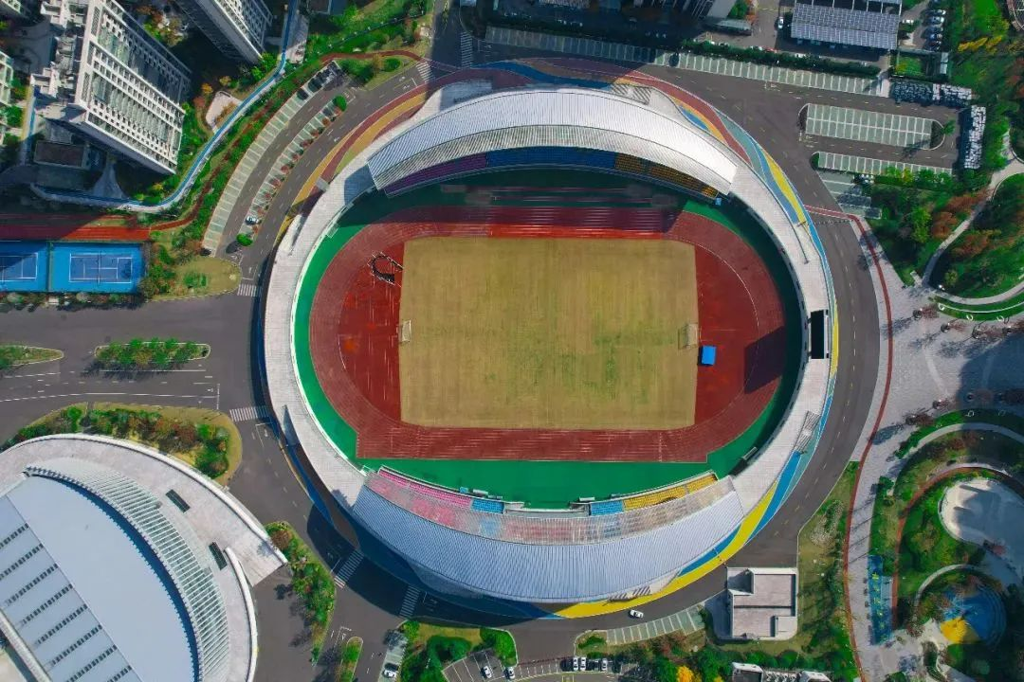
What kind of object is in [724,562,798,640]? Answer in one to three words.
building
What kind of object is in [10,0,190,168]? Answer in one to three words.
building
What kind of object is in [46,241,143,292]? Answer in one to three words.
tennis court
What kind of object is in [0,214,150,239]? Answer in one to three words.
running track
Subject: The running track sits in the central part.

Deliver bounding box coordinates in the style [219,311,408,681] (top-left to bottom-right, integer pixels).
[310,185,785,461]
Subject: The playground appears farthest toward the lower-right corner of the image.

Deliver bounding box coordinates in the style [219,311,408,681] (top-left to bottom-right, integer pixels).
[940,584,1011,650]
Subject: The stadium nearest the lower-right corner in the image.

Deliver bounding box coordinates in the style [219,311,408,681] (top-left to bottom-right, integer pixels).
[264,79,831,605]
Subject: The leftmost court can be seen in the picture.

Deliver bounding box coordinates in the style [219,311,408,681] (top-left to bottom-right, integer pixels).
[0,239,47,292]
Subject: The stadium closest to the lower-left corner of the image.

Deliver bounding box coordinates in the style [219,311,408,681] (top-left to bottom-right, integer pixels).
[0,430,291,682]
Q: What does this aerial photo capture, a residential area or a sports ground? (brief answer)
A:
sports ground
